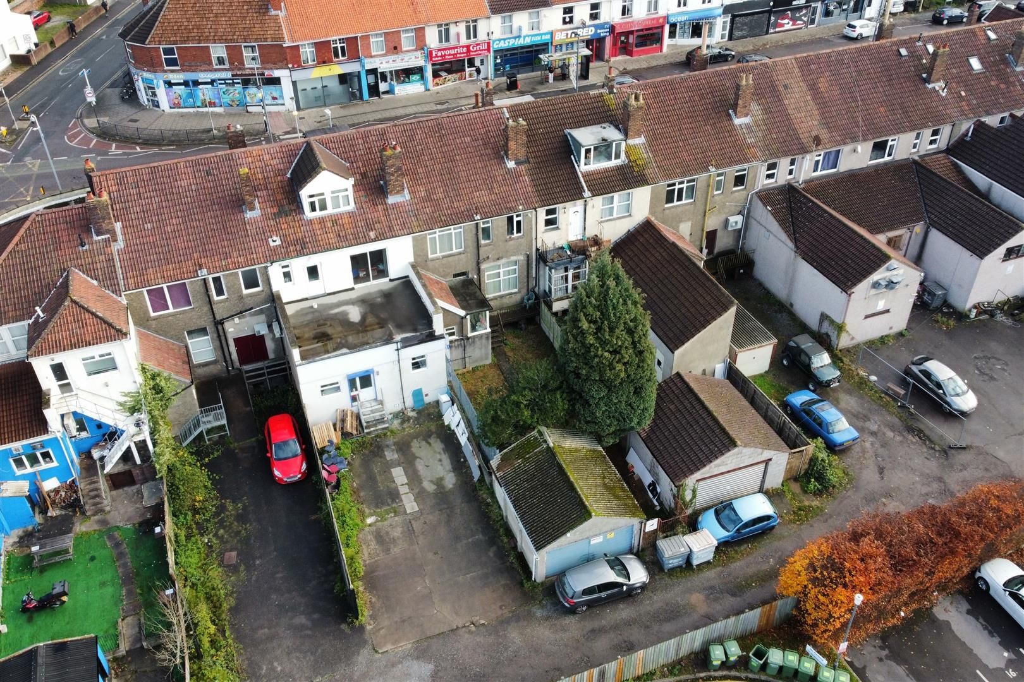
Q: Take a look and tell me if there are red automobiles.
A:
Yes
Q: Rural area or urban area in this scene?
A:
urban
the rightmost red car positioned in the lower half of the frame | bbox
[264,418,312,485]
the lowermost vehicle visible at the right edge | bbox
[979,560,1024,635]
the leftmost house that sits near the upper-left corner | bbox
[0,13,37,71]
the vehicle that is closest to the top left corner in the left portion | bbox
[21,9,51,28]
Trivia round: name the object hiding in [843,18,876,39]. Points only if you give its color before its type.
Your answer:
white car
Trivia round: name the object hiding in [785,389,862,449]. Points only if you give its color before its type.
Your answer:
blue car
